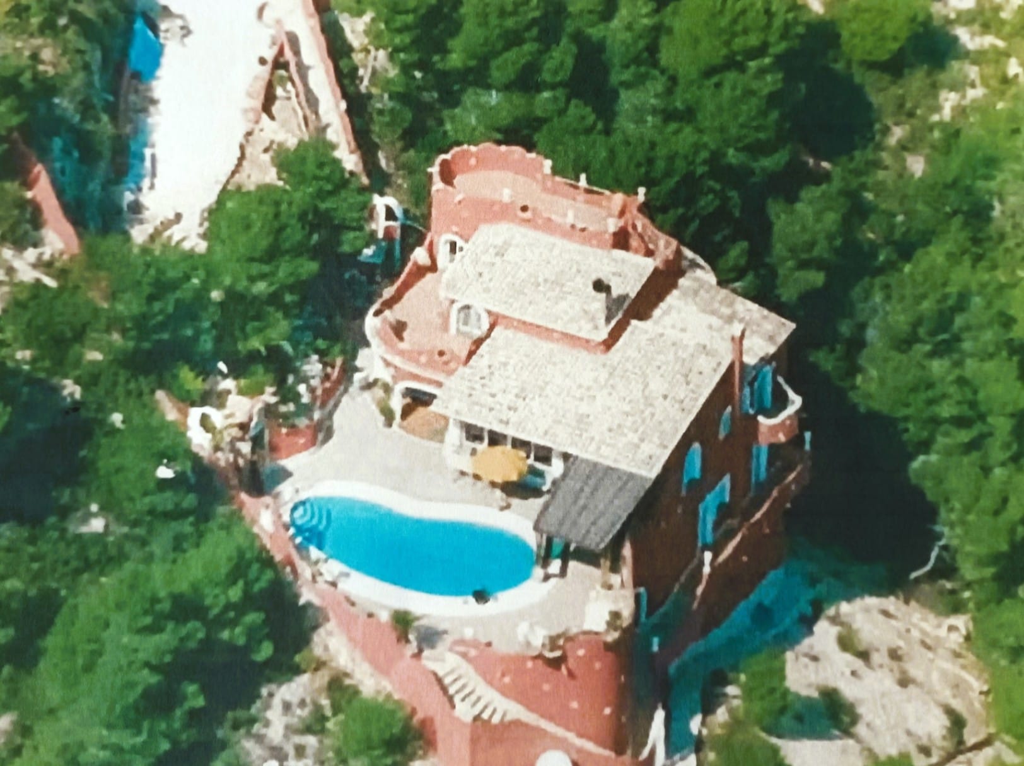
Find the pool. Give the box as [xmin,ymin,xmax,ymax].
[280,481,557,615]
